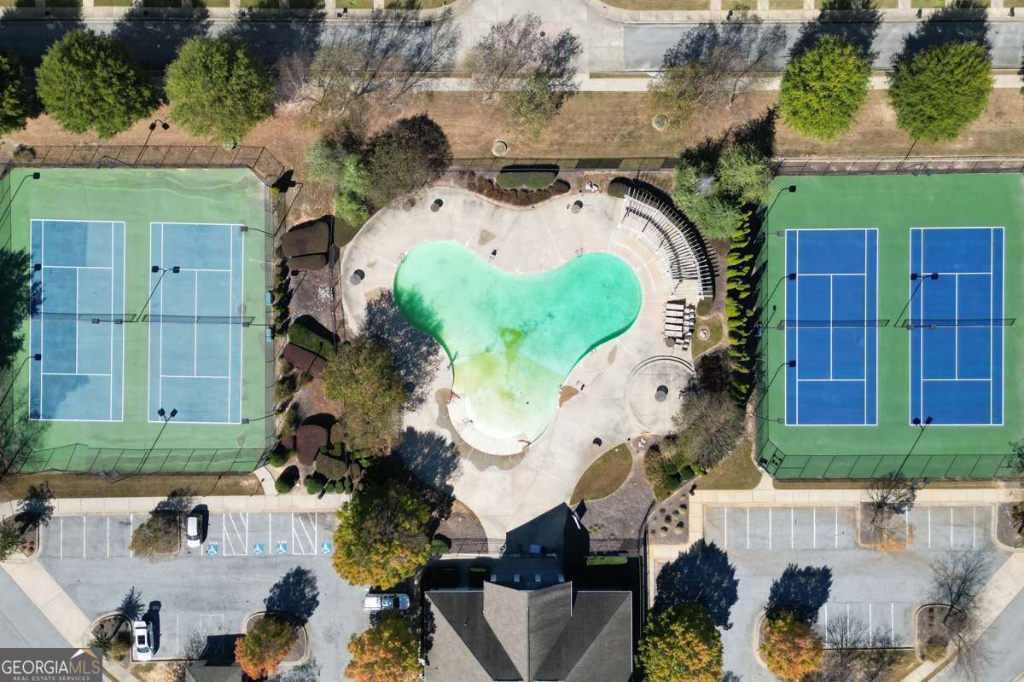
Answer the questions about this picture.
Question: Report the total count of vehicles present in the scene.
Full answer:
The count of vehicles comes to 3.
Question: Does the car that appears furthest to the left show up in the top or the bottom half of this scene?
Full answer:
The car that appears furthest to the left is in the bottom half of the image.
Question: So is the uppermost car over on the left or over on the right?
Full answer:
The uppermost car appears in the left half of the scene.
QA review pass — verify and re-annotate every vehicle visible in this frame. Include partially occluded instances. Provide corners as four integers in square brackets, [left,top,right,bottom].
[364,591,411,613]
[134,619,156,661]
[184,511,205,548]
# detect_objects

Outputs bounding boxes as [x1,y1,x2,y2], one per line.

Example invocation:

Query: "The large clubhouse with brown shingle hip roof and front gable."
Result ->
[426,574,632,682]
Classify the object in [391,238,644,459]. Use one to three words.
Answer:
swimming pool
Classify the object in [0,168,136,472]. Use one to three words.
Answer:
tennis court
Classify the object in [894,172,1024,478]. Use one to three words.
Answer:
tennis court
